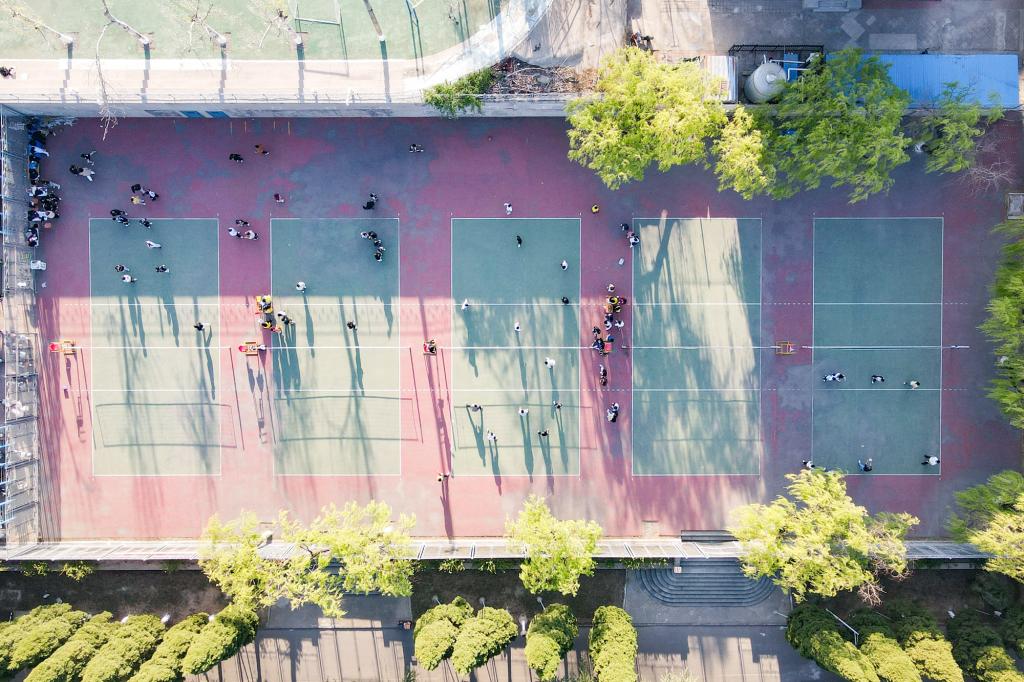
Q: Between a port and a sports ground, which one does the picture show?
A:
sports ground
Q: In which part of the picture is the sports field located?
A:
top left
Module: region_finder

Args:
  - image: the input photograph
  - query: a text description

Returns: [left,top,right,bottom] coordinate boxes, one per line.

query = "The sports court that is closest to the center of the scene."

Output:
[426,213,606,480]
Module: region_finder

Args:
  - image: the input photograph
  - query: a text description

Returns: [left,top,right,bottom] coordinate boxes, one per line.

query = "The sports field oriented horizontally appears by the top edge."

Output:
[0,0,552,91]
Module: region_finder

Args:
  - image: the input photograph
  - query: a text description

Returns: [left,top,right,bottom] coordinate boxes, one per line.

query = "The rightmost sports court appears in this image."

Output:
[787,212,968,480]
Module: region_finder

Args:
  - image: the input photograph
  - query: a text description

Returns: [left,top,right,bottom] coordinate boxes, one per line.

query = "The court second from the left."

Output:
[246,213,426,480]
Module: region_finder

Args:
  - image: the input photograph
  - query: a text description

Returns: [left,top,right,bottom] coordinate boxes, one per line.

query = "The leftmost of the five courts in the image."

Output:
[65,214,244,480]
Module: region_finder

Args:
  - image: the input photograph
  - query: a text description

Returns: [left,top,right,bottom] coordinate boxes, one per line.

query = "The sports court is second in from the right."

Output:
[606,212,786,480]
